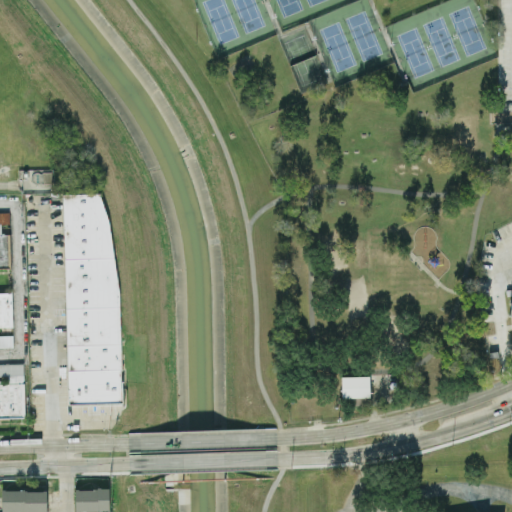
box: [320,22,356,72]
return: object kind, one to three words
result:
tennis court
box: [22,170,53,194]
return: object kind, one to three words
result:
building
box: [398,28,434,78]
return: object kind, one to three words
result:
tennis court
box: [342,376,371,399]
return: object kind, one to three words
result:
house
